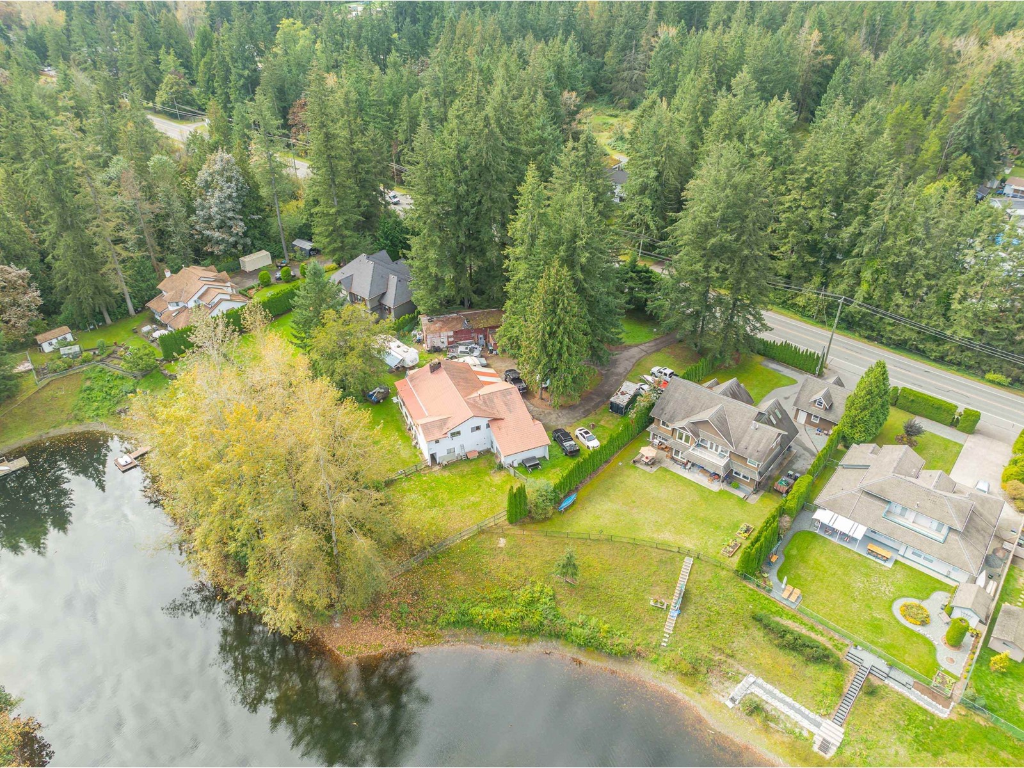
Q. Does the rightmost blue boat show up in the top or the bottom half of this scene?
bottom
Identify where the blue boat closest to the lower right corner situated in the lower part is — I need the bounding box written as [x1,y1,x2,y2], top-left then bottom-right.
[558,494,578,514]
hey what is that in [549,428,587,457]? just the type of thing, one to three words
truck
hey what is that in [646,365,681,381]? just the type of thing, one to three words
car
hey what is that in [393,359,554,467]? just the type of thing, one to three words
house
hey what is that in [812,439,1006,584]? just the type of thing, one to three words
house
